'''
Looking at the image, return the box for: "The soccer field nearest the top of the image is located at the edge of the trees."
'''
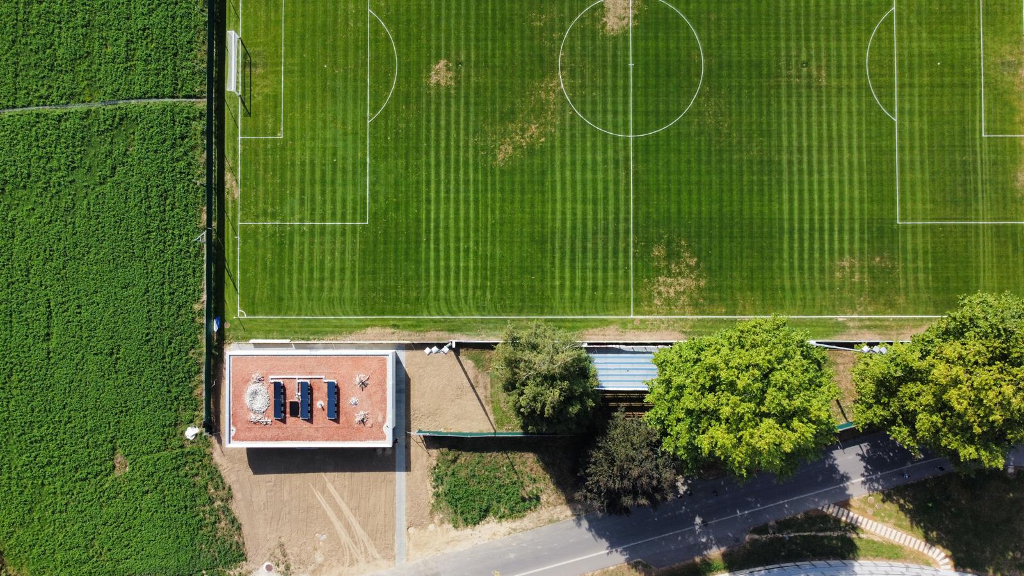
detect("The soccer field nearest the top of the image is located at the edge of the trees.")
[234,0,1024,317]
